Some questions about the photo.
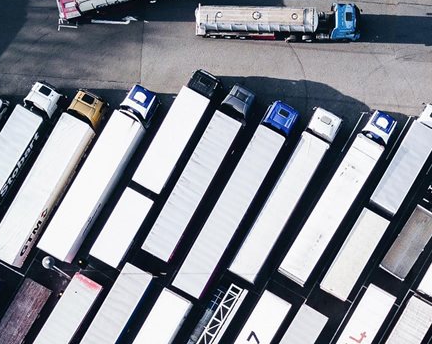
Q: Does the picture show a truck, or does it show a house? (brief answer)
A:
truck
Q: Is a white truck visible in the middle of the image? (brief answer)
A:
Yes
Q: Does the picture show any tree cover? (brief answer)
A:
No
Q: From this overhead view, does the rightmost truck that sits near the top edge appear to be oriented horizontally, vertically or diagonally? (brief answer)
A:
horizontally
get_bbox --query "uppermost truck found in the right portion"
[195,6,360,50]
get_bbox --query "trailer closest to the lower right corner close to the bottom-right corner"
[386,296,432,344]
